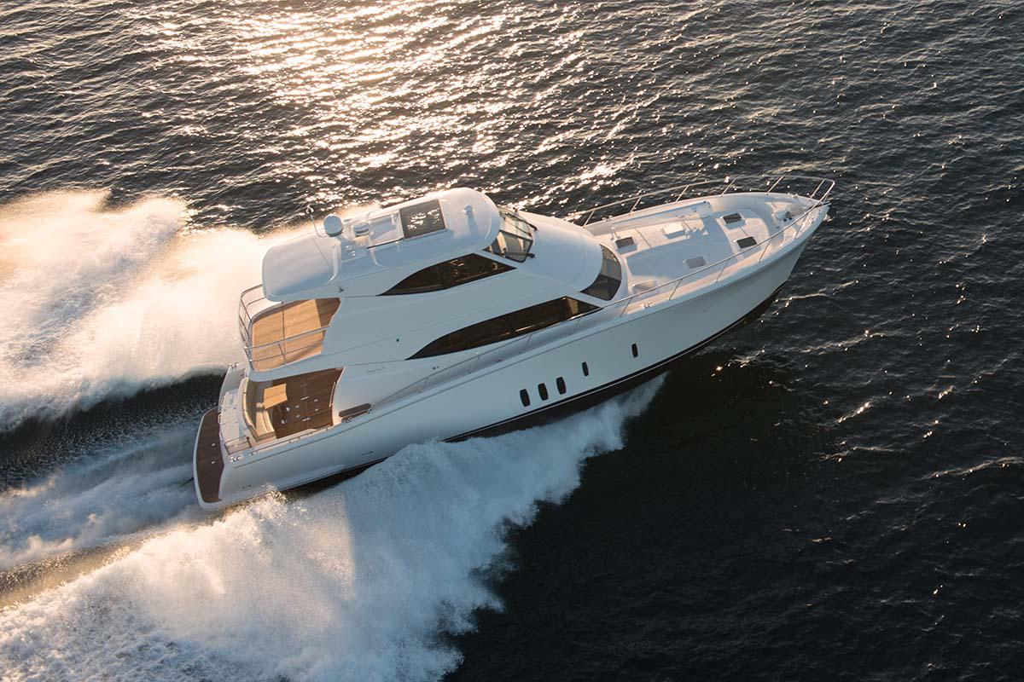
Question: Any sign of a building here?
No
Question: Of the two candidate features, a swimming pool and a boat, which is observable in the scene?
boat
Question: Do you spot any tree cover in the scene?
No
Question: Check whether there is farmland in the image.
No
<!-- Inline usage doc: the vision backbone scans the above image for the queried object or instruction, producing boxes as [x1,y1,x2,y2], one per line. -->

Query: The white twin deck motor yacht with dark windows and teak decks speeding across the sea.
[183,173,840,515]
